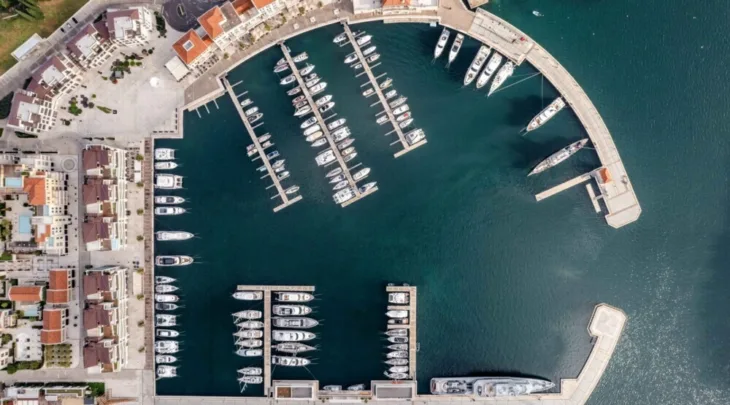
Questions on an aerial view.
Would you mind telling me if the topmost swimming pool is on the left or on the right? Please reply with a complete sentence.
The topmost swimming pool sits on the left side.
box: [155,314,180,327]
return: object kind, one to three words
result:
boat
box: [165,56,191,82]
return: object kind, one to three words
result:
tent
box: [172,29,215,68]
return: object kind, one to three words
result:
house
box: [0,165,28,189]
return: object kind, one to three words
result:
swimming pool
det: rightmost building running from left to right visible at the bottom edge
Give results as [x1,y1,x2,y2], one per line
[376,384,414,400]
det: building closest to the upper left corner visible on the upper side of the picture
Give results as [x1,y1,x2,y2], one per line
[10,33,48,61]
